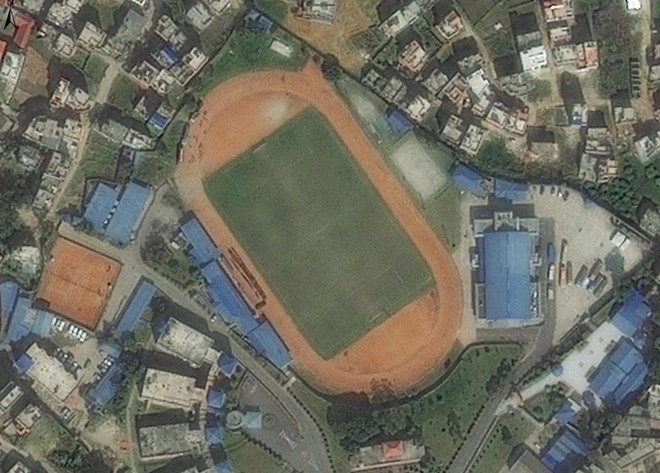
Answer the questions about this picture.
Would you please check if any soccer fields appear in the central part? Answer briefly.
Yes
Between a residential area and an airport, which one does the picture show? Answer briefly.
residential area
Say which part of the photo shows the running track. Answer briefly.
center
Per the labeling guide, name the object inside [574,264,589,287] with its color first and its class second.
gray vehicle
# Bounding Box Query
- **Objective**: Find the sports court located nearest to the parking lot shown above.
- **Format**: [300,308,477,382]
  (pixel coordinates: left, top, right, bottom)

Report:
[385,126,454,207]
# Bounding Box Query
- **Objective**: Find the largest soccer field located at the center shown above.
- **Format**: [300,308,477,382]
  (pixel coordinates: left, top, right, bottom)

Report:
[201,105,436,362]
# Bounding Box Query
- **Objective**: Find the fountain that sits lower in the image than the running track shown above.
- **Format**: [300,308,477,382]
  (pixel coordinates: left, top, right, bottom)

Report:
[226,411,244,430]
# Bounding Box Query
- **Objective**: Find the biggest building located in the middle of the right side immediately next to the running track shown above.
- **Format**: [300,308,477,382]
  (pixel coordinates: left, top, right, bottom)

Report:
[472,211,548,328]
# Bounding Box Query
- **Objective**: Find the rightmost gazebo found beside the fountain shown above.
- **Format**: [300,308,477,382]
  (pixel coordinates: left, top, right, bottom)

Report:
[244,410,265,432]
